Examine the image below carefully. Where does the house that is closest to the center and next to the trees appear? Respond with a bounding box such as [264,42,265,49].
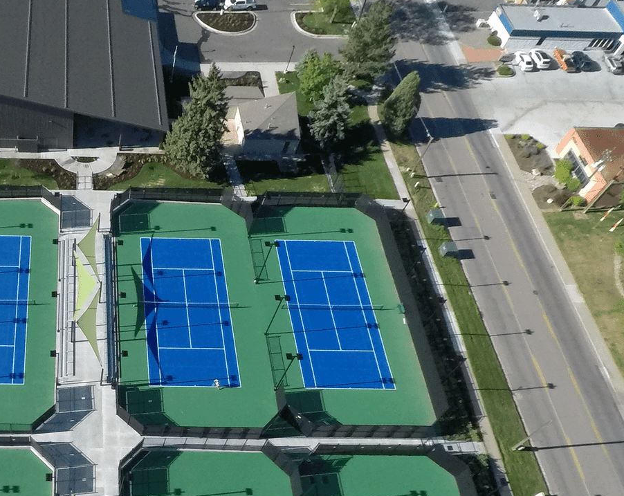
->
[215,86,302,153]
